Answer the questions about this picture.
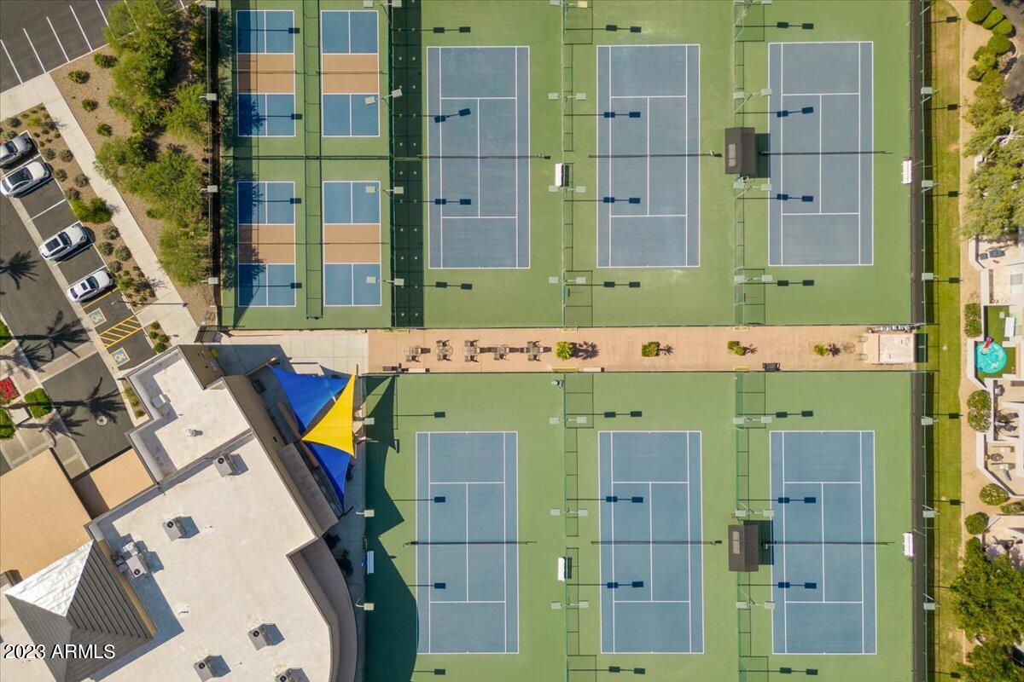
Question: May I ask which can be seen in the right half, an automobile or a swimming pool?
swimming pool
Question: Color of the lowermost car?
white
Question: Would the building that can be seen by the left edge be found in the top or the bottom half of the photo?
bottom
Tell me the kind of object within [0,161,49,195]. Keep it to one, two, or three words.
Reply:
car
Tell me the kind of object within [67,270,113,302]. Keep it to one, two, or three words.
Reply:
car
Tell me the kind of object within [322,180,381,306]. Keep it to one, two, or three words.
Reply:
sports court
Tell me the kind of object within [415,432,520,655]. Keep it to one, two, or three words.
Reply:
tennis court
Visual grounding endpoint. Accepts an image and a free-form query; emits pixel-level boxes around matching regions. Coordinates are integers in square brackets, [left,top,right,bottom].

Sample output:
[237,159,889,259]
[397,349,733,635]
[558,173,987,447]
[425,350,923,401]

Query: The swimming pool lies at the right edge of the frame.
[976,343,1009,374]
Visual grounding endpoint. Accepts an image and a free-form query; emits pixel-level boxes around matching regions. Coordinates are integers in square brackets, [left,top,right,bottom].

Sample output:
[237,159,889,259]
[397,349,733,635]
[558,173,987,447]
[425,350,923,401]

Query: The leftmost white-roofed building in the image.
[0,345,358,682]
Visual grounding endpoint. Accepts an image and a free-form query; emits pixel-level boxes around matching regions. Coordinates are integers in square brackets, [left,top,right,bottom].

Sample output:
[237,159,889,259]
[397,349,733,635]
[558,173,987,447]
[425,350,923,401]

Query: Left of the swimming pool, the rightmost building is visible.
[866,334,914,364]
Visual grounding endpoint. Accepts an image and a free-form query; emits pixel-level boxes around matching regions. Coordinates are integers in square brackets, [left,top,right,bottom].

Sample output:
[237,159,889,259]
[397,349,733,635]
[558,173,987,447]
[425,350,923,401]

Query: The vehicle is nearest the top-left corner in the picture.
[0,134,34,168]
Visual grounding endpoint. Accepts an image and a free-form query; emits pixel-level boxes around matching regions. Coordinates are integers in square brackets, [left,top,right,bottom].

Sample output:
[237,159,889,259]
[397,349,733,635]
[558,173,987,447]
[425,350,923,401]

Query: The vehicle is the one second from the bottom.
[39,227,86,259]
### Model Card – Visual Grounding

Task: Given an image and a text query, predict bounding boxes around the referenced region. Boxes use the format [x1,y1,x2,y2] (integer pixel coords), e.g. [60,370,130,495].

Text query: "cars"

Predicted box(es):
[39,227,86,259]
[0,161,49,195]
[0,134,34,168]
[67,270,113,302]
